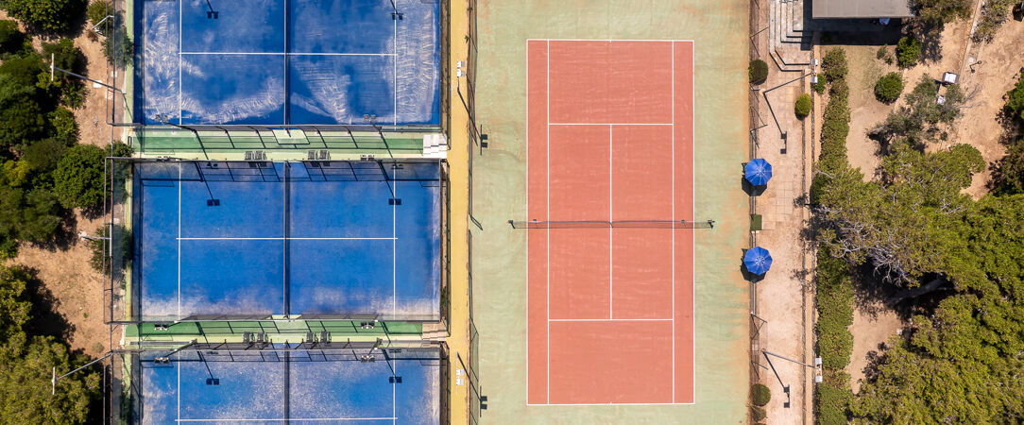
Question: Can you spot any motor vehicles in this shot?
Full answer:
No, the photo shows no motor vehicle.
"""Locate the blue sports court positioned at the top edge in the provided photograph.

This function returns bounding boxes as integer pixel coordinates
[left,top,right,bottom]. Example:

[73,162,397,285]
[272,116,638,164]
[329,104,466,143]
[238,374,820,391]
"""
[134,0,439,130]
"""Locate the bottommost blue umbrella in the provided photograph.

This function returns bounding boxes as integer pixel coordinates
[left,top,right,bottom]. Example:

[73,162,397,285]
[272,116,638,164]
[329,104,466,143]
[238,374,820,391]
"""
[744,247,773,274]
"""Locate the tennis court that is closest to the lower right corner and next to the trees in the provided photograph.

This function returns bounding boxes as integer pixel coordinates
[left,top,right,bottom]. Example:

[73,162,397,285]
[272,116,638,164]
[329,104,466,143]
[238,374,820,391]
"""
[471,0,749,425]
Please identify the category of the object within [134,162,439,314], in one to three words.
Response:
sports court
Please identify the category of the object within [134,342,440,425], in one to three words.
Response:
sports court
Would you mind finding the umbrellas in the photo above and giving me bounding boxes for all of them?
[744,157,774,186]
[744,247,773,274]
